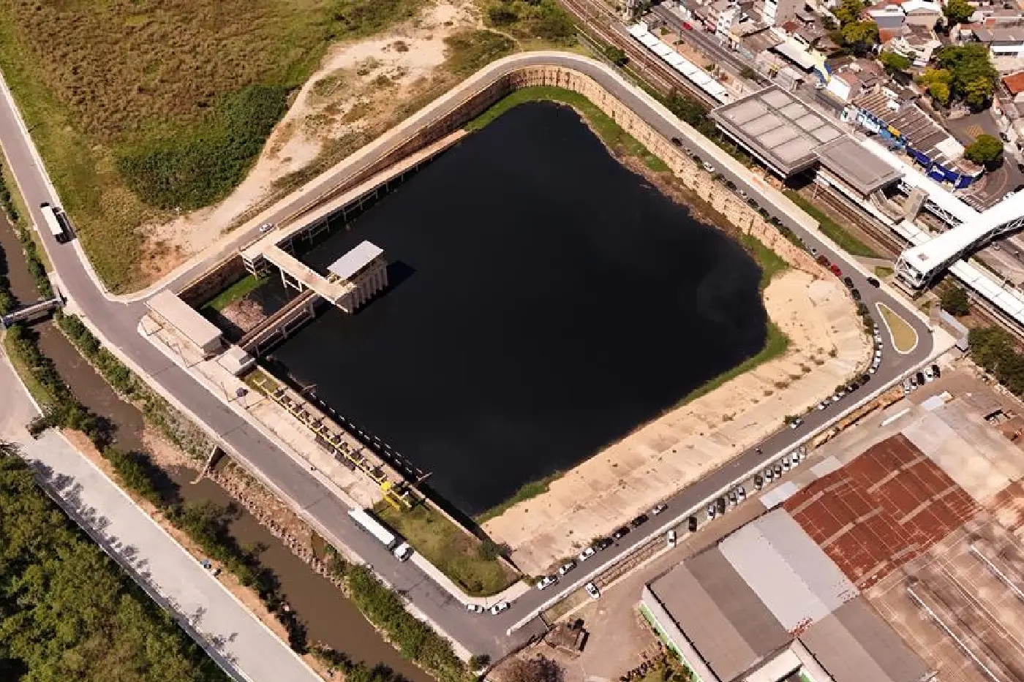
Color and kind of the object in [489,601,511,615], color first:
white car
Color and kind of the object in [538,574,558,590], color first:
white car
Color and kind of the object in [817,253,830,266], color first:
red vehicle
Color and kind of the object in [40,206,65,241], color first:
white truck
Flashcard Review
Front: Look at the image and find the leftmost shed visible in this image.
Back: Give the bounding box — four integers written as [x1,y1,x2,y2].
[144,289,222,358]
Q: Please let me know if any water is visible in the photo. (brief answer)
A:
Yes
